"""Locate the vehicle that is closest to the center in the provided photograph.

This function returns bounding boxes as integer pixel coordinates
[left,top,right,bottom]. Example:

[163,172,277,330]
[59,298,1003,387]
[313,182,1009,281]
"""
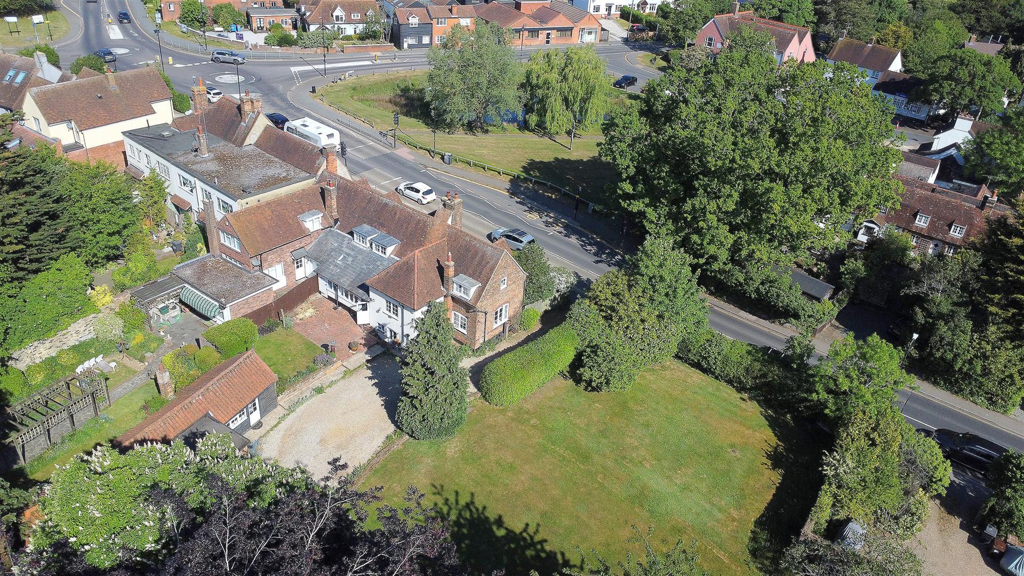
[489,224,540,252]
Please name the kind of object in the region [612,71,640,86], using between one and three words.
car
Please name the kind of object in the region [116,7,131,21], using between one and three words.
car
